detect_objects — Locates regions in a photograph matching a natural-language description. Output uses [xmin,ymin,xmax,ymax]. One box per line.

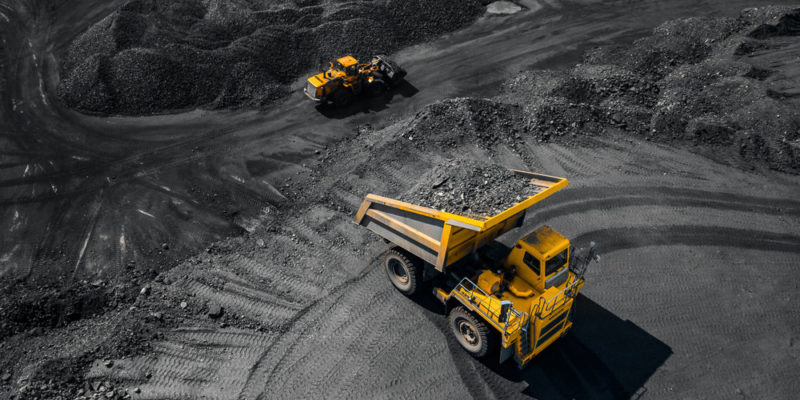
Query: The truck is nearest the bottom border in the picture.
[356,171,602,370]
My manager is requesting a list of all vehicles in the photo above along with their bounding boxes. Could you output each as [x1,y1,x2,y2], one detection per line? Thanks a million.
[305,54,410,110]
[356,171,602,370]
